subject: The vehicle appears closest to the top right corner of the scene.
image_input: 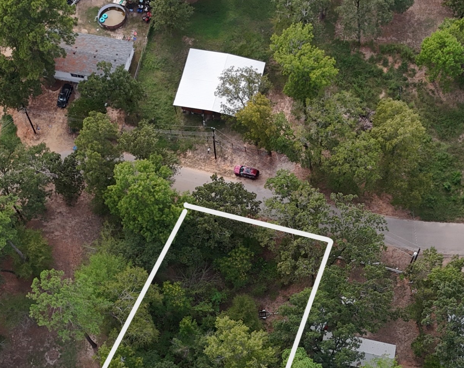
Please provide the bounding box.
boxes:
[231,164,261,180]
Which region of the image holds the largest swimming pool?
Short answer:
top left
